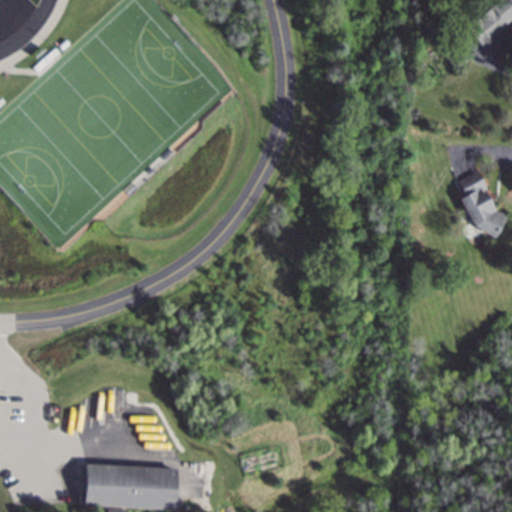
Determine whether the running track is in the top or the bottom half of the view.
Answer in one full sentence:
The running track sits in the top half of the picture.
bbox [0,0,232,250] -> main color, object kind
green sports field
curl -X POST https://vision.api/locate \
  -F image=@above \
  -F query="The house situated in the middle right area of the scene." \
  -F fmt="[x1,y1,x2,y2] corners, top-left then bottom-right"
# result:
[460,168,508,239]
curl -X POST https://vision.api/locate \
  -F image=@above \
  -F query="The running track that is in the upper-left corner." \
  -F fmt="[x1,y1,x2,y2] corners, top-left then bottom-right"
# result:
[0,0,70,77]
